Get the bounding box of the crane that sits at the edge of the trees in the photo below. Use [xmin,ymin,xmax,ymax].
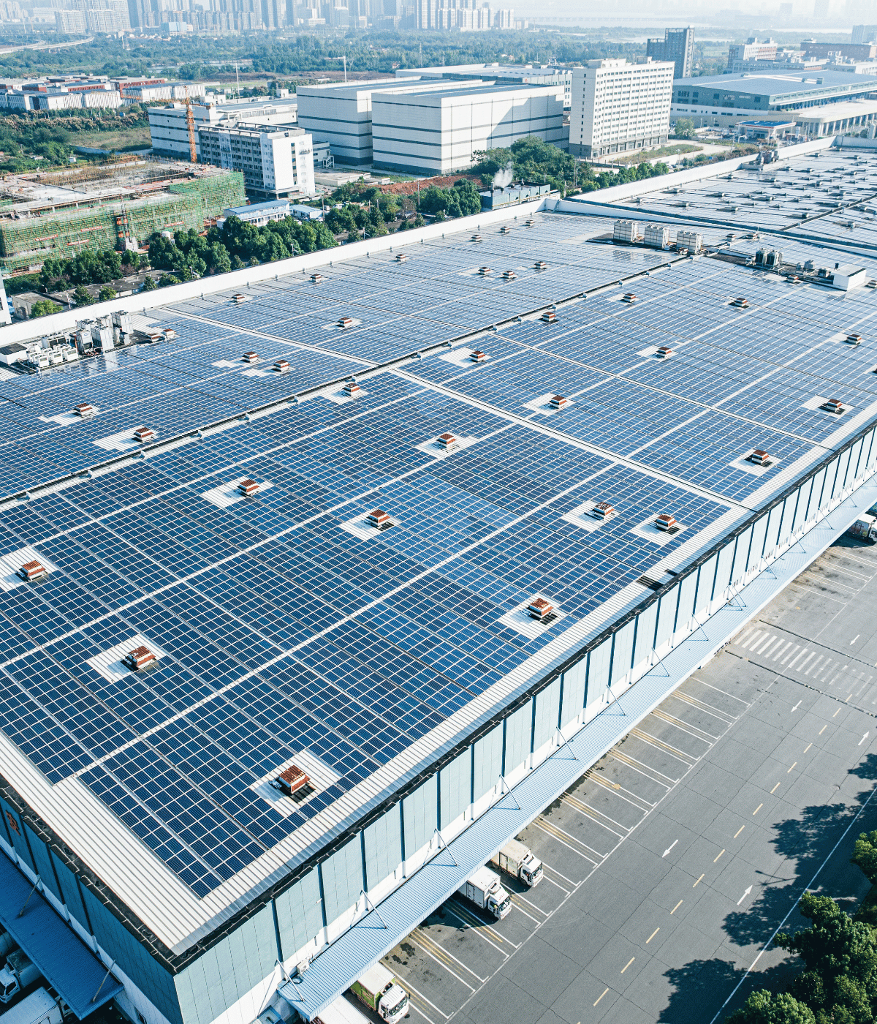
[114,83,220,163]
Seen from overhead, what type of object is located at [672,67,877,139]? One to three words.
building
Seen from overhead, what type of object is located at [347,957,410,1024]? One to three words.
truck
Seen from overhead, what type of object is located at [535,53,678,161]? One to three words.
building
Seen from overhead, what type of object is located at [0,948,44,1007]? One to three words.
truck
